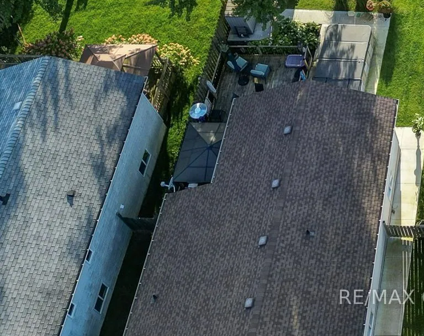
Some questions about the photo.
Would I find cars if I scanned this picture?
No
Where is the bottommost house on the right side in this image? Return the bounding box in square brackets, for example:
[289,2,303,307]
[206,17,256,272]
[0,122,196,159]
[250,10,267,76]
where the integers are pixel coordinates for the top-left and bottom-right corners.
[124,82,401,336]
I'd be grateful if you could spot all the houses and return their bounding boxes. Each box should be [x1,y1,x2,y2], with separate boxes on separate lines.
[0,56,167,336]
[124,82,401,336]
